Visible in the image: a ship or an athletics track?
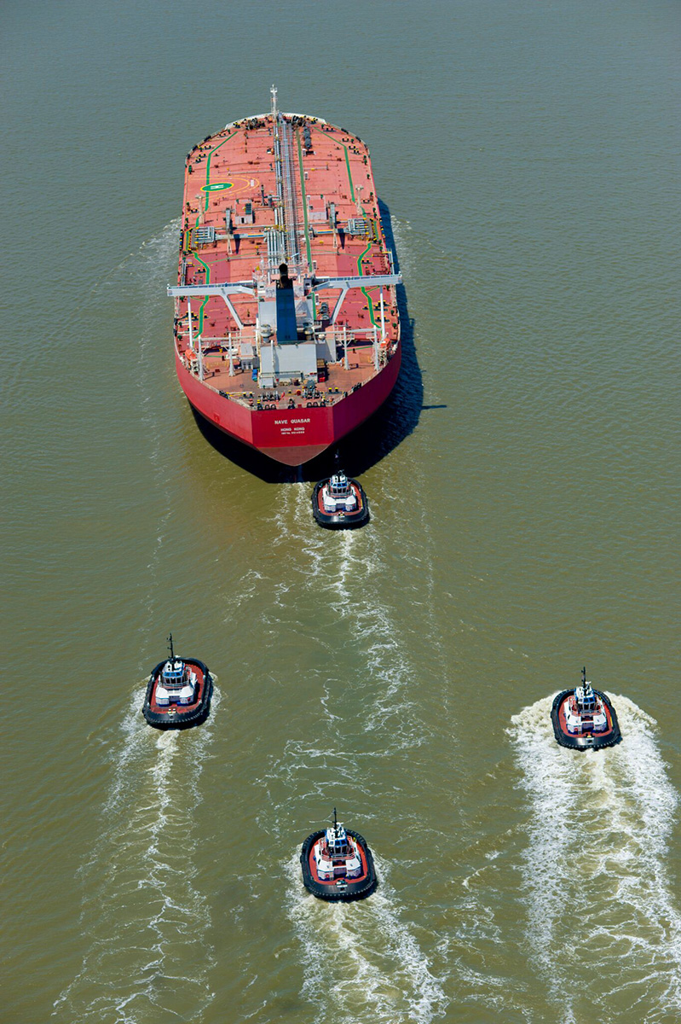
ship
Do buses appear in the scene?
No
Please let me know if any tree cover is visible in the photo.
No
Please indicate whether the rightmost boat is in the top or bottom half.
bottom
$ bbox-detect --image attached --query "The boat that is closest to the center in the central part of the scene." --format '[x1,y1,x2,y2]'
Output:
[313,452,369,529]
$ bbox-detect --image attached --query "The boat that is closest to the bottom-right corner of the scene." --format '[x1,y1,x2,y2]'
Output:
[552,662,624,750]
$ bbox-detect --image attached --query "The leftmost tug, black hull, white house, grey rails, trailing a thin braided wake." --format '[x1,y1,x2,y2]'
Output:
[144,636,210,730]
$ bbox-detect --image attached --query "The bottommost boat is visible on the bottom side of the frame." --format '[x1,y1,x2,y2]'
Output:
[302,804,377,904]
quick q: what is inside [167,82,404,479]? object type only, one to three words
ship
